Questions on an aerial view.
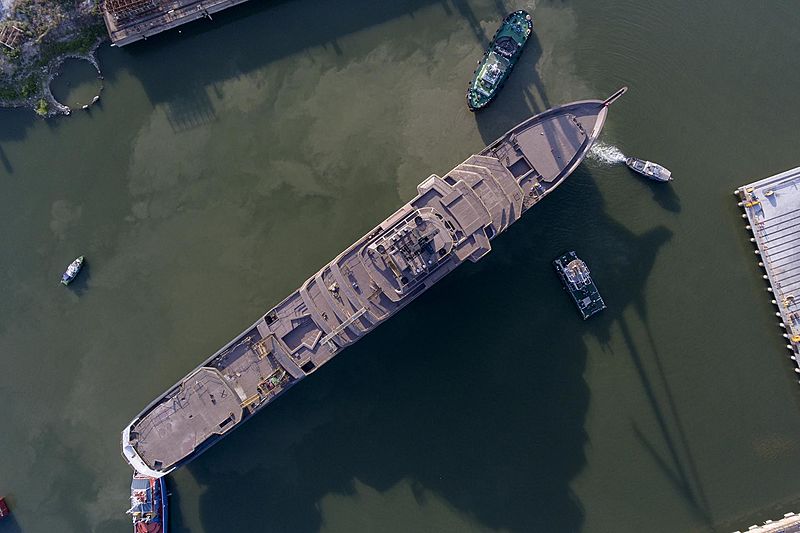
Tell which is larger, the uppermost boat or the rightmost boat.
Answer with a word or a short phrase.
the uppermost boat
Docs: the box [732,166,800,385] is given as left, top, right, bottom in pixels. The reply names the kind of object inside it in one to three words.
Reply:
pier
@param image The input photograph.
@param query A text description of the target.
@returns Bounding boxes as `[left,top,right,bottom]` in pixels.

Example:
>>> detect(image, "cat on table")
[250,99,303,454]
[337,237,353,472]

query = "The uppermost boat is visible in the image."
[467,11,530,109]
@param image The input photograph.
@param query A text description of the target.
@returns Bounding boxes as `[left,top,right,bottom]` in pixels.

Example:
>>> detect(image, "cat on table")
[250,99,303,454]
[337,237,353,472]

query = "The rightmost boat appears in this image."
[623,155,673,181]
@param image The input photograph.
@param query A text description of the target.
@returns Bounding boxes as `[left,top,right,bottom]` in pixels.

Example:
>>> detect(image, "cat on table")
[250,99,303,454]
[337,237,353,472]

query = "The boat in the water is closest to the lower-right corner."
[552,249,607,319]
